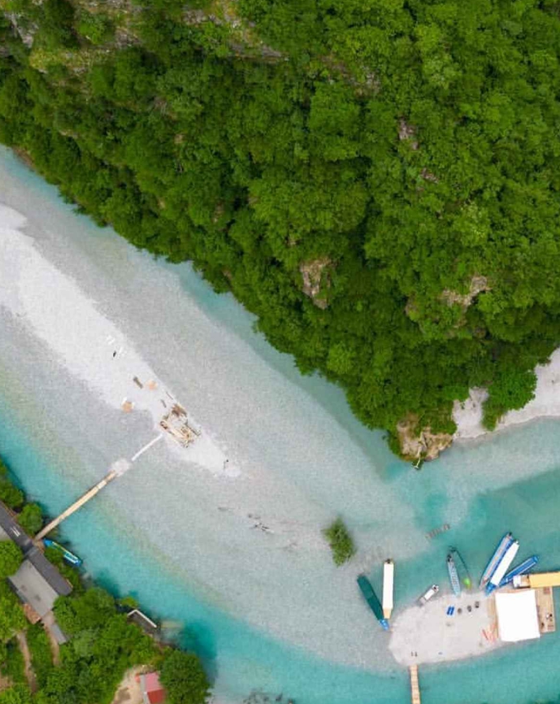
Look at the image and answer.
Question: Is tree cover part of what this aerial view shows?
Yes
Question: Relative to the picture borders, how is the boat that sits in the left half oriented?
on a diagonal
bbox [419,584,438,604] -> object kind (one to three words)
boat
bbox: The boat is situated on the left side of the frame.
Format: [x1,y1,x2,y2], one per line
[55,544,82,566]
